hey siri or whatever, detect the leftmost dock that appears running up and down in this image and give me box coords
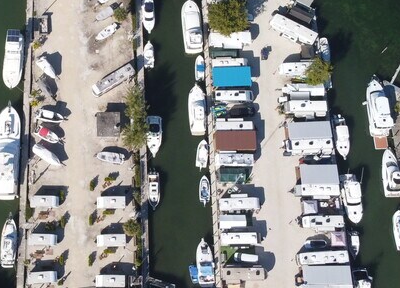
[201,0,222,288]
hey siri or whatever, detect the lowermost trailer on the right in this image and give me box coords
[219,267,266,280]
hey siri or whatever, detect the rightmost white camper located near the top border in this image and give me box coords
[268,14,317,45]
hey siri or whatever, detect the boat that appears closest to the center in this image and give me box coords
[195,137,208,169]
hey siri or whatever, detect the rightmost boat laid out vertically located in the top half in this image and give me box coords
[365,72,394,145]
